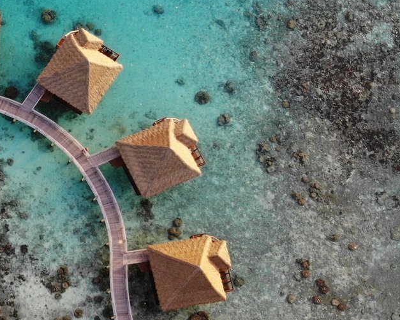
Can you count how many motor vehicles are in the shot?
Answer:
0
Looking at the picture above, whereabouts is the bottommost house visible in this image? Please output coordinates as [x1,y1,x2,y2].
[133,233,232,310]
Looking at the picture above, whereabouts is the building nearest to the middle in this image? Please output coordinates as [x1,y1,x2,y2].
[109,117,205,198]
